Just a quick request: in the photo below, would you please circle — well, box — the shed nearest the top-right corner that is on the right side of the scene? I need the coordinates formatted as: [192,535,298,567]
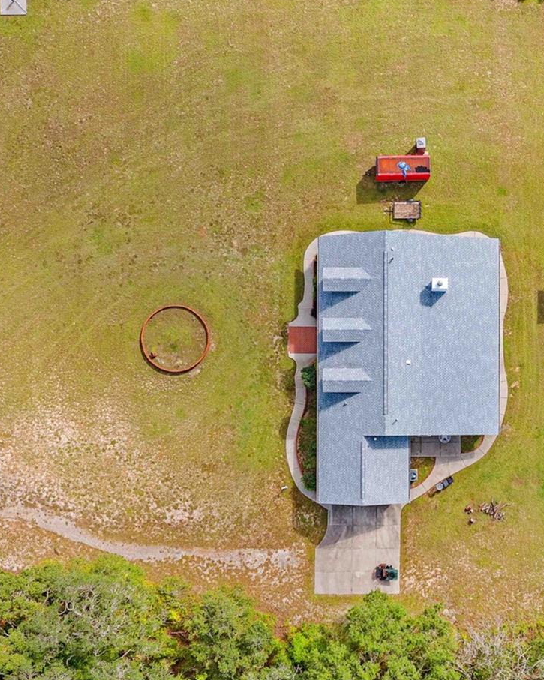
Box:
[379,155,430,183]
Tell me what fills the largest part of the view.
grass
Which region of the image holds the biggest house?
right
